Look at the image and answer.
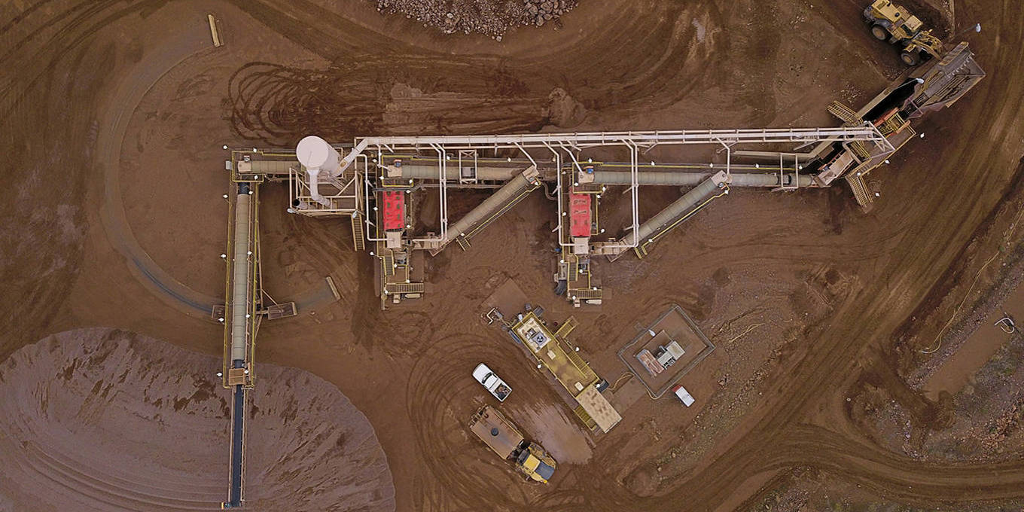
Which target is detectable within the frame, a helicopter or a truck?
truck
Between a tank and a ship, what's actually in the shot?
tank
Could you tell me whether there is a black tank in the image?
No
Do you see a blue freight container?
No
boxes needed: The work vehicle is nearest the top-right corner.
[862,0,974,75]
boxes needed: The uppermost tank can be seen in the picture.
[288,136,367,250]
